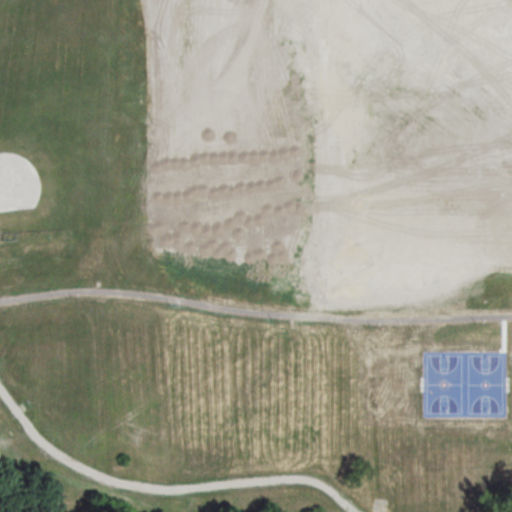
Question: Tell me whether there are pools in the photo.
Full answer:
No, no pool can be seen from above.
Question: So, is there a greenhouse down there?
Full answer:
No, no greenhouse can be seen from above.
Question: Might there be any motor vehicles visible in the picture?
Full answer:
No, this view has no motor vehicle in it.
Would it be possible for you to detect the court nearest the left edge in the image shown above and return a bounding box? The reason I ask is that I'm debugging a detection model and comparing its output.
[424,352,466,419]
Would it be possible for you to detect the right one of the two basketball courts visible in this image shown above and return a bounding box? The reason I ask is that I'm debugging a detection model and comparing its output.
[466,352,508,419]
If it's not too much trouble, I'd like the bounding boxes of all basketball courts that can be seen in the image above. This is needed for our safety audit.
[466,352,508,419]
[424,352,466,419]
